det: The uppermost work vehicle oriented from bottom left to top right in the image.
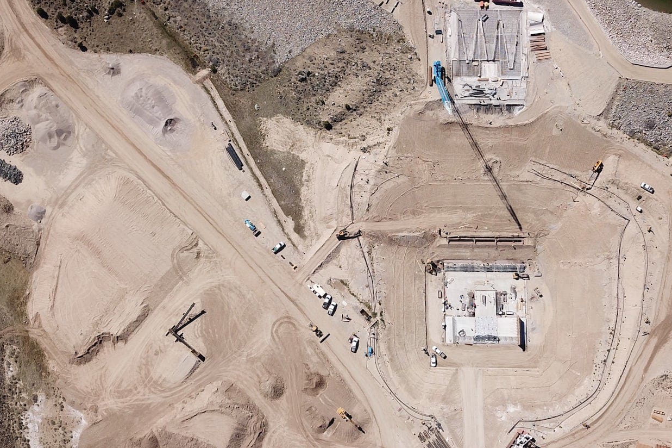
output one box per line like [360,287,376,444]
[579,158,605,194]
